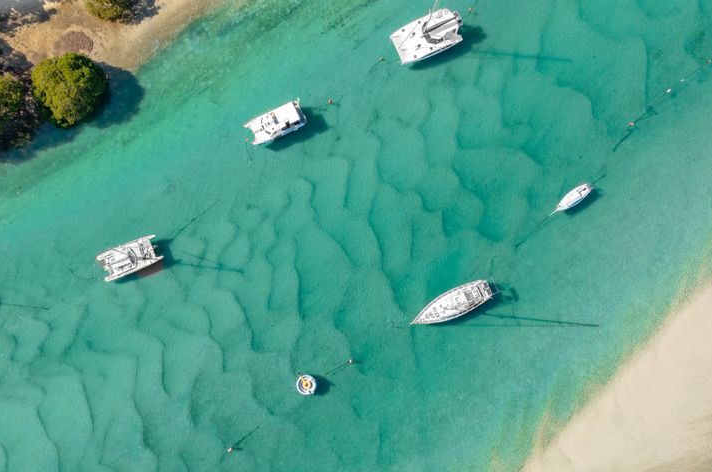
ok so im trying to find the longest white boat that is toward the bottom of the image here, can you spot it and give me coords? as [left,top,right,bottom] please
[409,279,500,326]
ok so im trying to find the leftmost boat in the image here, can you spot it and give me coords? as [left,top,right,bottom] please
[97,234,166,285]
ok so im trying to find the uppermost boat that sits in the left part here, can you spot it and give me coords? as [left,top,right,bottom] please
[245,97,312,148]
